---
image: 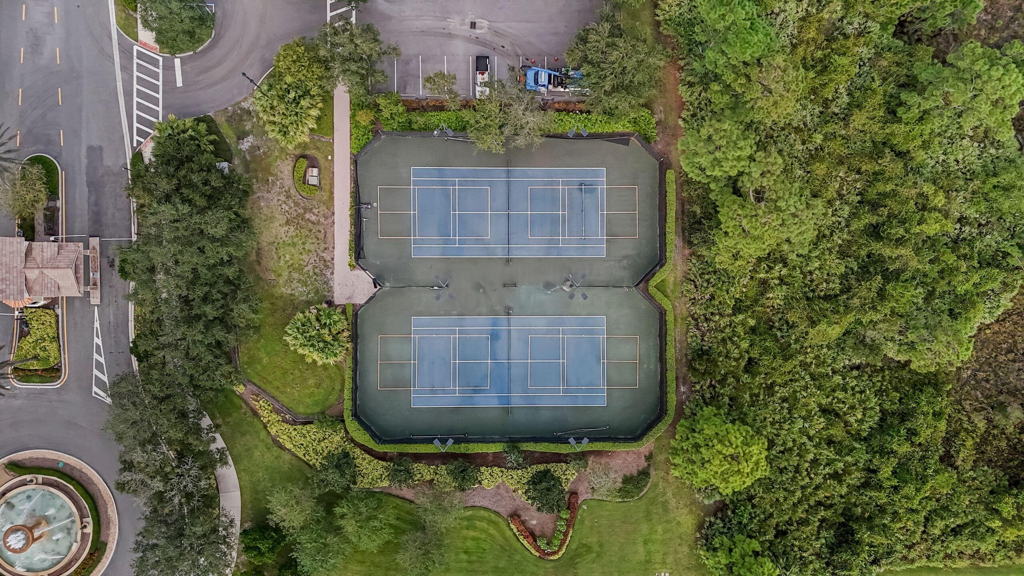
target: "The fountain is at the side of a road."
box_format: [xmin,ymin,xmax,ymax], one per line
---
[0,476,90,576]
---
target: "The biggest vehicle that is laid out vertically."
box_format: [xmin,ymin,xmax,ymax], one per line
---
[473,55,492,100]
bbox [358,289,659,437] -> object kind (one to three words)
tennis court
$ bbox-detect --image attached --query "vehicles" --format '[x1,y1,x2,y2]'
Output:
[517,65,600,94]
[473,55,492,100]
